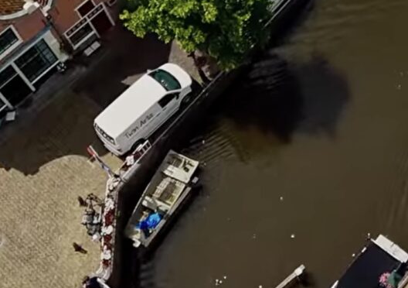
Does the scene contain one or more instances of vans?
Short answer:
Yes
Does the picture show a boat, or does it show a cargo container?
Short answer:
boat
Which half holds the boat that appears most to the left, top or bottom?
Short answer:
bottom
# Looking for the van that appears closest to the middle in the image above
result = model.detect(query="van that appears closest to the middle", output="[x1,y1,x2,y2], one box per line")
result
[87,58,199,152]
